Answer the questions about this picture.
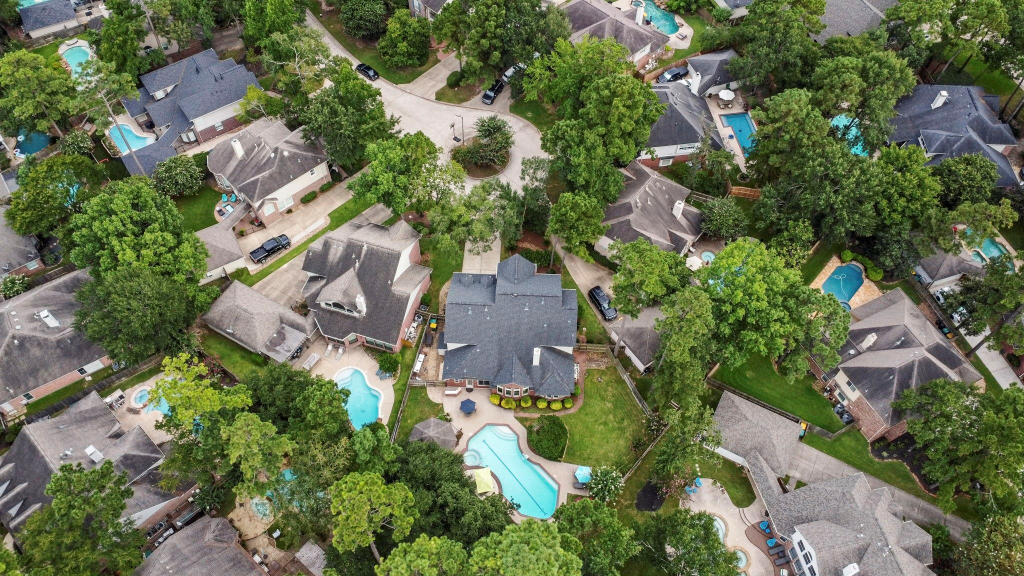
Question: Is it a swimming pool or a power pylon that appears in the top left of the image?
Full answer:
Visible in the top left of the image is a swimming pool.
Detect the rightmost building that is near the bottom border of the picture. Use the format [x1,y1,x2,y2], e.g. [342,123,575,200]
[764,472,936,576]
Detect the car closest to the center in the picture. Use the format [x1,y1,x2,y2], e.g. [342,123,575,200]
[588,284,619,323]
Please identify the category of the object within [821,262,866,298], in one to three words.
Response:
swimming pool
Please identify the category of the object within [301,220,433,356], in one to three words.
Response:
house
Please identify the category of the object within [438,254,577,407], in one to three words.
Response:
house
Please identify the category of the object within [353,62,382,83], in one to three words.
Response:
car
